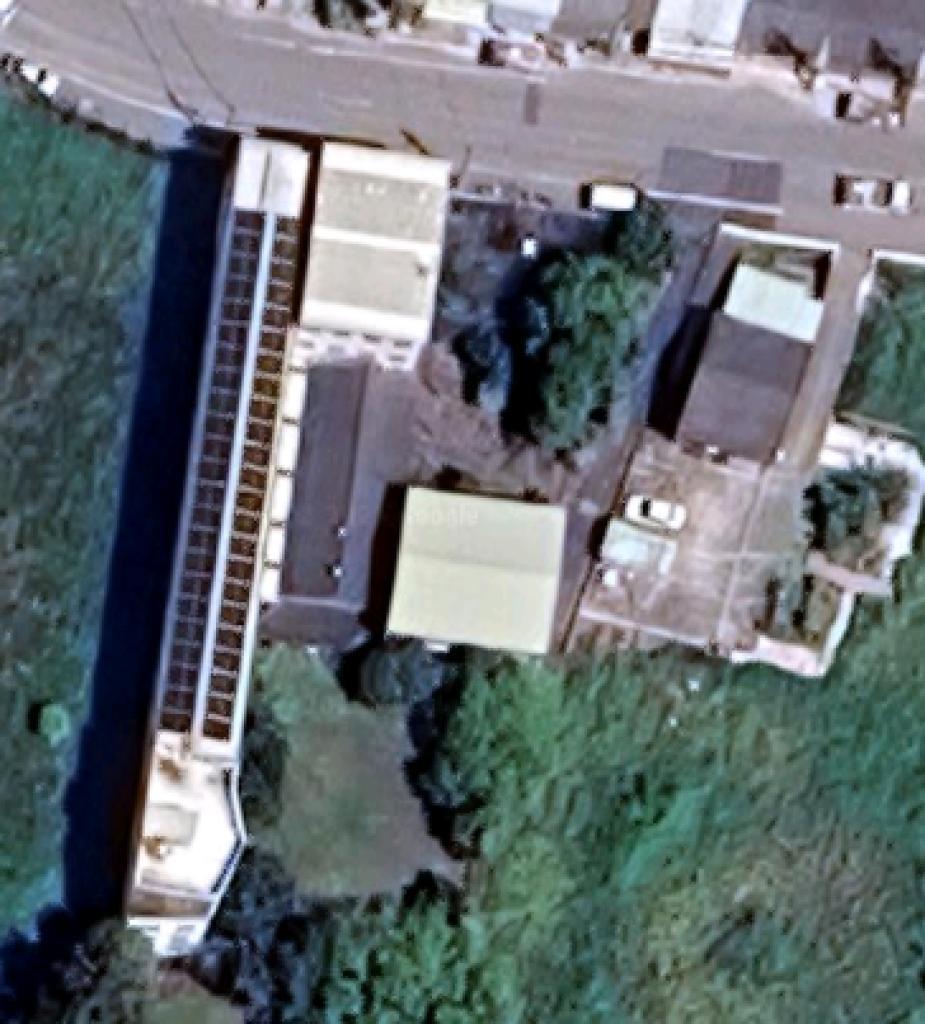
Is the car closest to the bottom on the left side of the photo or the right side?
right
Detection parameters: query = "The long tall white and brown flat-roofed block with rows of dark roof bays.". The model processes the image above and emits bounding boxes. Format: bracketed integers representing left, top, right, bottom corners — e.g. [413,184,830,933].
[129,139,318,955]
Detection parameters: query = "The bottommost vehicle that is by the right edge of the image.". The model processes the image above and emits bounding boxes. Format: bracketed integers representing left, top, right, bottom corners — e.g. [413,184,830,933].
[834,176,910,209]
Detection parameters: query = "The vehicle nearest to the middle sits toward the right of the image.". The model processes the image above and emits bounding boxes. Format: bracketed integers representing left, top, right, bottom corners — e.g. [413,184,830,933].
[623,496,689,532]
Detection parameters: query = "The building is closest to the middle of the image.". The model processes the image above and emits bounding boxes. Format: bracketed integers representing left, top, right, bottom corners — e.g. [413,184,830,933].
[387,487,568,655]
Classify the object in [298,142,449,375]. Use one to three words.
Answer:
building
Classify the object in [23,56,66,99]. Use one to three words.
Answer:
car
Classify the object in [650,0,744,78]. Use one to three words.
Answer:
house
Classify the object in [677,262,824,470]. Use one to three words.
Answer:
house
